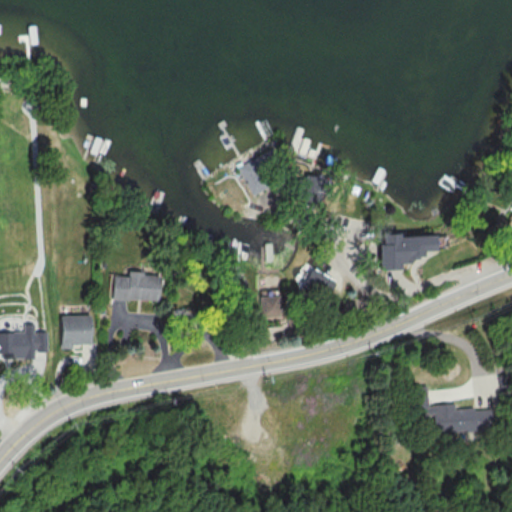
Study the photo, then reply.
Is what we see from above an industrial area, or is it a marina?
marina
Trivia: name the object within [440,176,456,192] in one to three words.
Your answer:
boat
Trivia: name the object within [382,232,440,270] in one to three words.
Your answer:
house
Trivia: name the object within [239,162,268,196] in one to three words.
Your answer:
house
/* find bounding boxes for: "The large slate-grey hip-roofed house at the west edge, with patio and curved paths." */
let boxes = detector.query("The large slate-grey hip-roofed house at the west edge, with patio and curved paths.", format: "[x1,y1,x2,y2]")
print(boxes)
[0,320,48,360]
